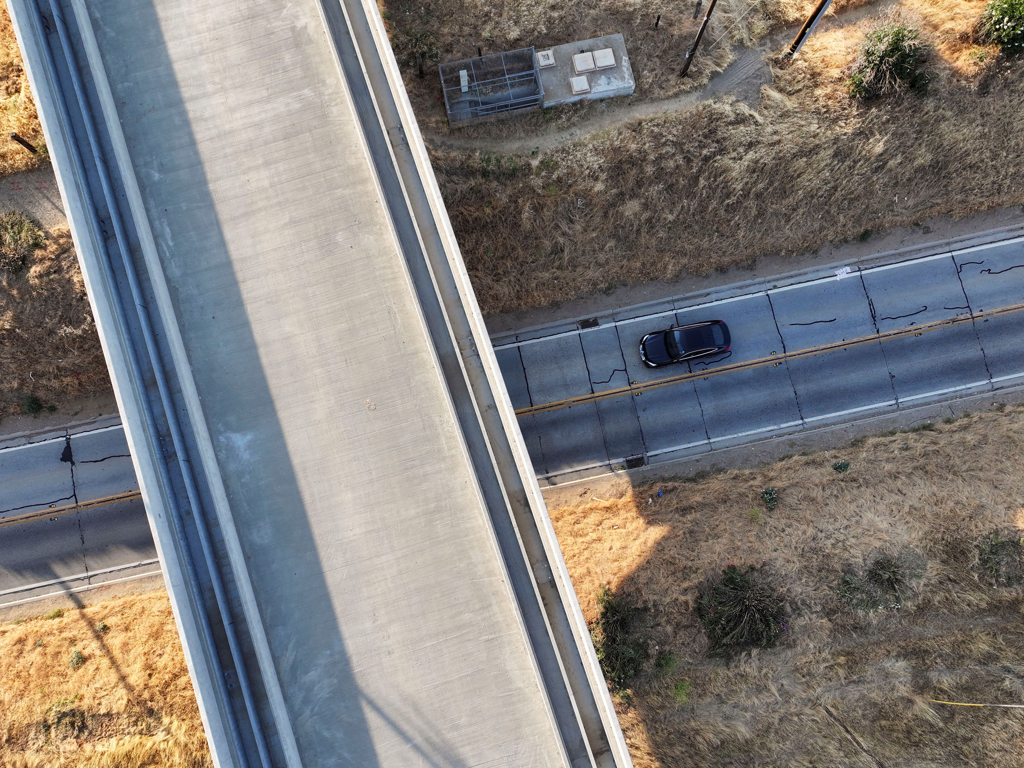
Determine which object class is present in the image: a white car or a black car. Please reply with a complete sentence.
Visible in the photo is a black car.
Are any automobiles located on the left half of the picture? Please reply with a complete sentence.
No, no automobile is visible on the left half of the picture.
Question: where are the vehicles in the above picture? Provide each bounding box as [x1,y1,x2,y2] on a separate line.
[637,320,735,369]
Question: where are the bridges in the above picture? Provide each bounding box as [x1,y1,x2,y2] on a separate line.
[5,0,634,768]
